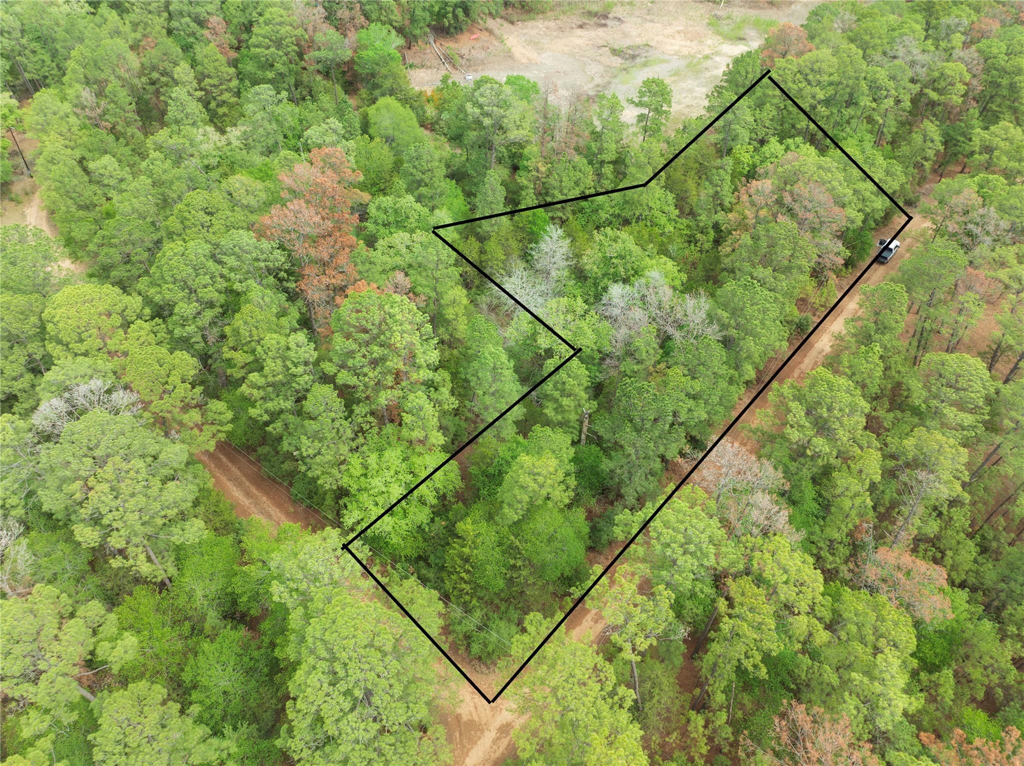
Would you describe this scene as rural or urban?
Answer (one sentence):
It looks rural.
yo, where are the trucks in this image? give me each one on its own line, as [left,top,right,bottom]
[877,236,902,258]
